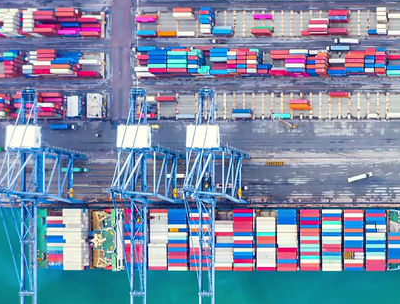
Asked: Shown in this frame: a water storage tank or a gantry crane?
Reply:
gantry crane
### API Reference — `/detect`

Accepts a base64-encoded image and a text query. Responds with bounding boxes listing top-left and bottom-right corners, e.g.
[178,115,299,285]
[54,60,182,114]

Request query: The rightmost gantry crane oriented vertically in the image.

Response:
[181,87,254,304]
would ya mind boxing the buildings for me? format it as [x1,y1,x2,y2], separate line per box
[87,93,108,119]
[68,96,85,119]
